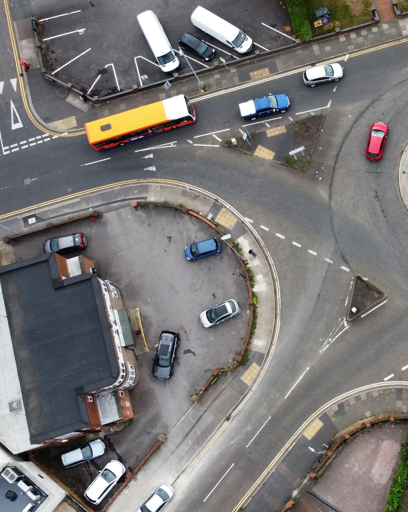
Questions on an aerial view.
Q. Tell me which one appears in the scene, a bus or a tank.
bus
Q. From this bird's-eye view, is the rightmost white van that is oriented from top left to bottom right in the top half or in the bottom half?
top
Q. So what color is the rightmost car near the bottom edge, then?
white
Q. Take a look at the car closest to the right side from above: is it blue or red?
red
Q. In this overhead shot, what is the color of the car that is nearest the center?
blue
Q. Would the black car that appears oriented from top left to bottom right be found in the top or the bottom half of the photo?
top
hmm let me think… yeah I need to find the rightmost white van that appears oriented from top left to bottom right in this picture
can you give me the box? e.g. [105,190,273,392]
[192,6,253,55]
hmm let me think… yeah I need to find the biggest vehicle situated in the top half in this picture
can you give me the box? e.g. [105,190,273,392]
[85,93,201,152]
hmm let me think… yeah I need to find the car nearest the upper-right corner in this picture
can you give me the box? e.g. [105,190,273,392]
[303,61,344,84]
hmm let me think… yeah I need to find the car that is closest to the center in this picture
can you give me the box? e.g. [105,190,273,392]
[183,238,225,263]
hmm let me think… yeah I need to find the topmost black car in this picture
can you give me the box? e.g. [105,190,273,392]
[178,29,216,64]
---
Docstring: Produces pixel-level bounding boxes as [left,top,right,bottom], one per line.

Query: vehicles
[366,122,388,162]
[192,6,253,55]
[303,61,344,84]
[85,93,201,152]
[178,29,216,64]
[83,460,126,505]
[200,302,242,329]
[239,94,291,122]
[44,234,90,254]
[183,238,225,263]
[151,330,181,380]
[57,437,110,472]
[137,10,179,74]
[136,482,176,512]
